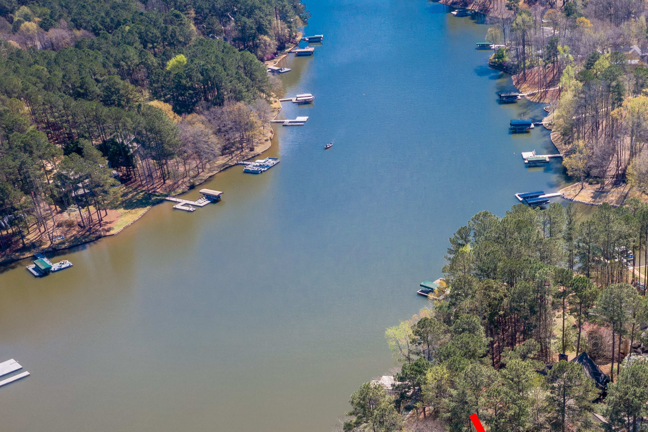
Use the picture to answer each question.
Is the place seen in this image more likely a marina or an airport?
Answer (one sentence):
The area seen from above is a marina.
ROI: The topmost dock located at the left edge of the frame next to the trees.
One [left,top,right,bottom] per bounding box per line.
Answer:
[25,253,73,278]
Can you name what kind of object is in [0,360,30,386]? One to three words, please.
pier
